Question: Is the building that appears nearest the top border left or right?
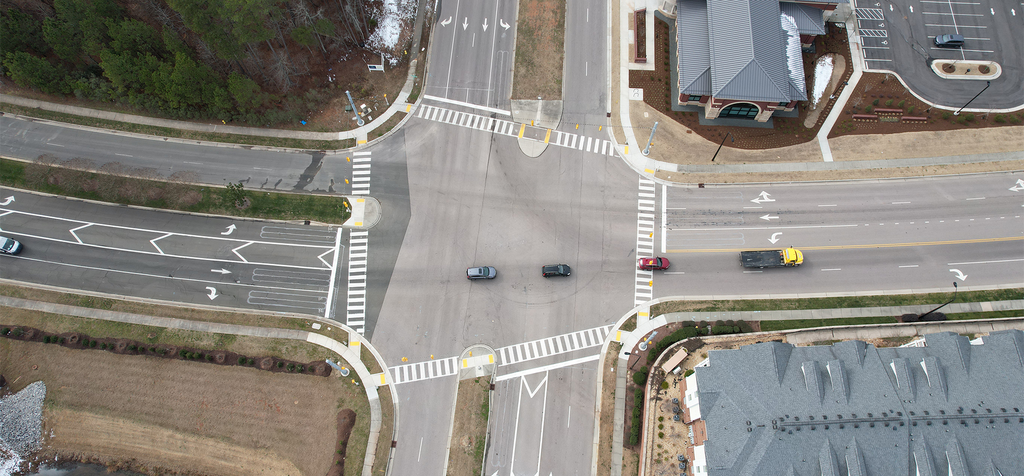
right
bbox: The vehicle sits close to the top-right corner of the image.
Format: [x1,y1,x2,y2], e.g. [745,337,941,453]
[934,32,966,47]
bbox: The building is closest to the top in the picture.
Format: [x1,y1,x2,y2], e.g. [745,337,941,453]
[676,0,852,120]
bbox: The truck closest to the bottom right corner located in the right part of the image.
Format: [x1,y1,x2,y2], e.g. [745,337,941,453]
[731,246,808,269]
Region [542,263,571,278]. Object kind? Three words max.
car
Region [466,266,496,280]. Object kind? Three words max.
car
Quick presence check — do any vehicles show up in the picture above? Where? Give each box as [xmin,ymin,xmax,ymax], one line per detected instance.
[0,236,22,254]
[466,266,496,280]
[542,263,571,278]
[934,32,966,47]
[731,246,808,269]
[638,256,669,271]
